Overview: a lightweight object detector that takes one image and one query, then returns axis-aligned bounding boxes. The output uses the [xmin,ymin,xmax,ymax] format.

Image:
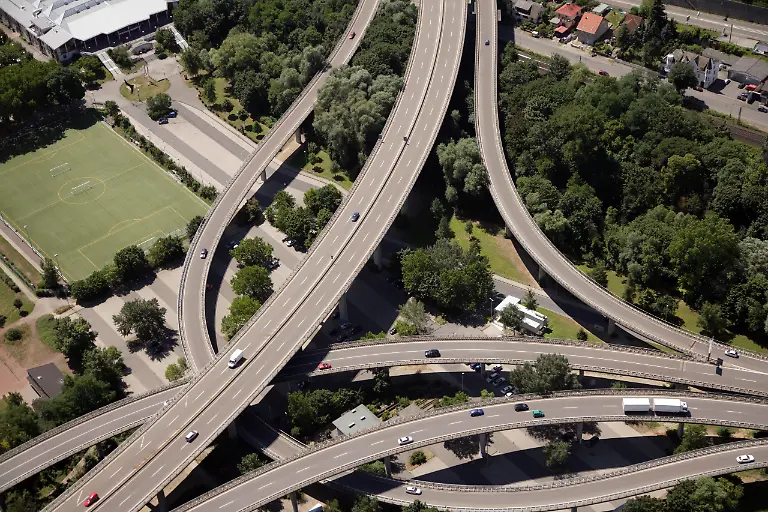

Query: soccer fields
[0,107,211,291]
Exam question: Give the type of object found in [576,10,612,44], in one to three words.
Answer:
house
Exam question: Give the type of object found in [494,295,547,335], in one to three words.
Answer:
building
